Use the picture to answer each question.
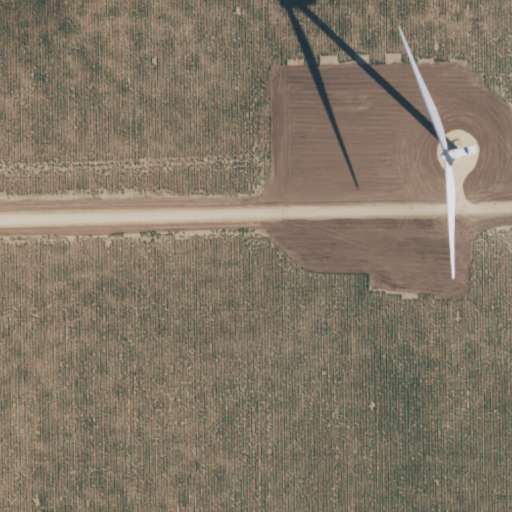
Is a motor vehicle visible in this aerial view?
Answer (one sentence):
No, I can't see a single motor vehicle in this photo.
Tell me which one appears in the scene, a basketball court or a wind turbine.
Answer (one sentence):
Visible in the photo is a wind turbine.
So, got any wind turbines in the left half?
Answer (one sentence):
No, there is no wind turbine in the left half.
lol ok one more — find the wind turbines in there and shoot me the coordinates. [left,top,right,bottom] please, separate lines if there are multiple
[400,27,477,280]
